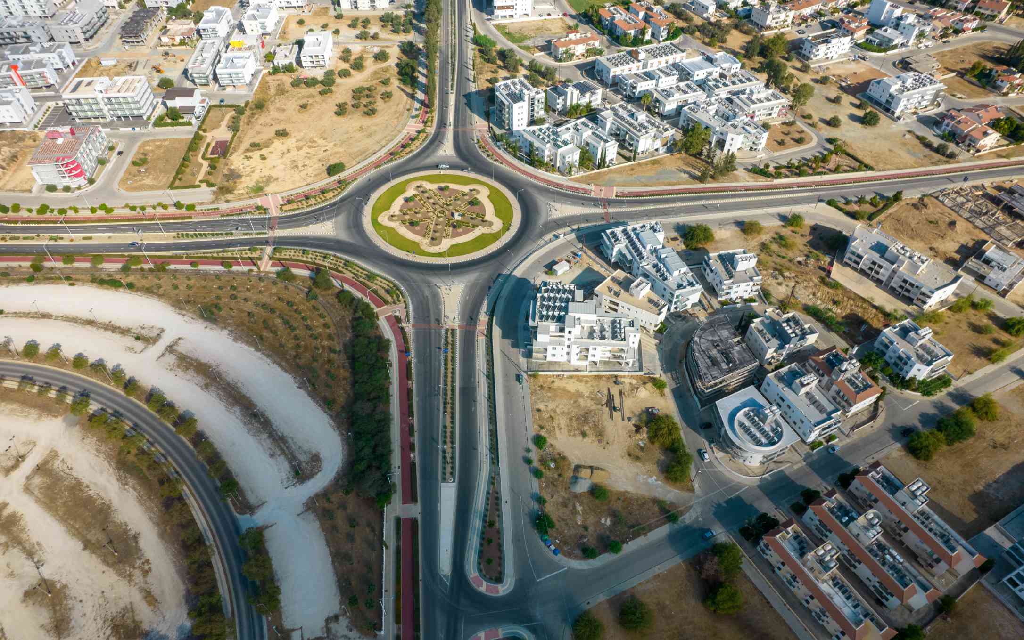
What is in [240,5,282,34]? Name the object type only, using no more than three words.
building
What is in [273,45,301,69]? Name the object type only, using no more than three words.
house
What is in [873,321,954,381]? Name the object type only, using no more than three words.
building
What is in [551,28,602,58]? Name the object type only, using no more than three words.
house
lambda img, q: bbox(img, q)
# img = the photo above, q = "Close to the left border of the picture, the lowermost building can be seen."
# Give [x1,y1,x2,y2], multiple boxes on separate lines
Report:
[28,123,112,192]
